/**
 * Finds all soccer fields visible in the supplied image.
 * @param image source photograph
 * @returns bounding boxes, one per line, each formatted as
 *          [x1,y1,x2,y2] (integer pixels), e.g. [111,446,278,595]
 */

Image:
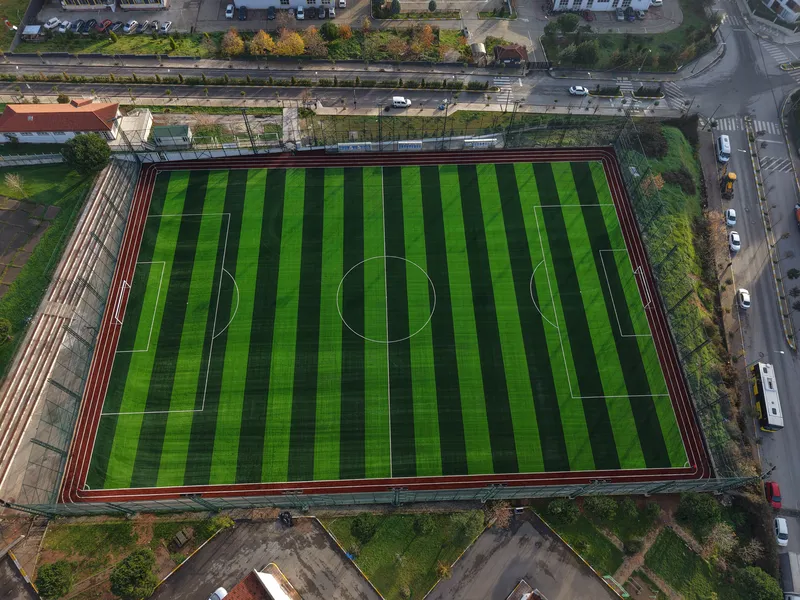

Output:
[83,160,691,491]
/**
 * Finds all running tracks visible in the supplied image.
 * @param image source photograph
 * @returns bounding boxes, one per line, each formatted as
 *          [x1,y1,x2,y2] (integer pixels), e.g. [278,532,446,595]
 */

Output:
[55,148,718,504]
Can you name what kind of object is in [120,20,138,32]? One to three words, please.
vehicle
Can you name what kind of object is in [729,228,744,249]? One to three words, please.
car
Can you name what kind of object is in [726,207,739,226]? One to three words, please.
vehicle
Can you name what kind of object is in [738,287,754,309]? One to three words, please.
car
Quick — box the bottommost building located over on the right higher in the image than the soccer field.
[498,37,530,63]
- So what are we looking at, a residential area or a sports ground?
sports ground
